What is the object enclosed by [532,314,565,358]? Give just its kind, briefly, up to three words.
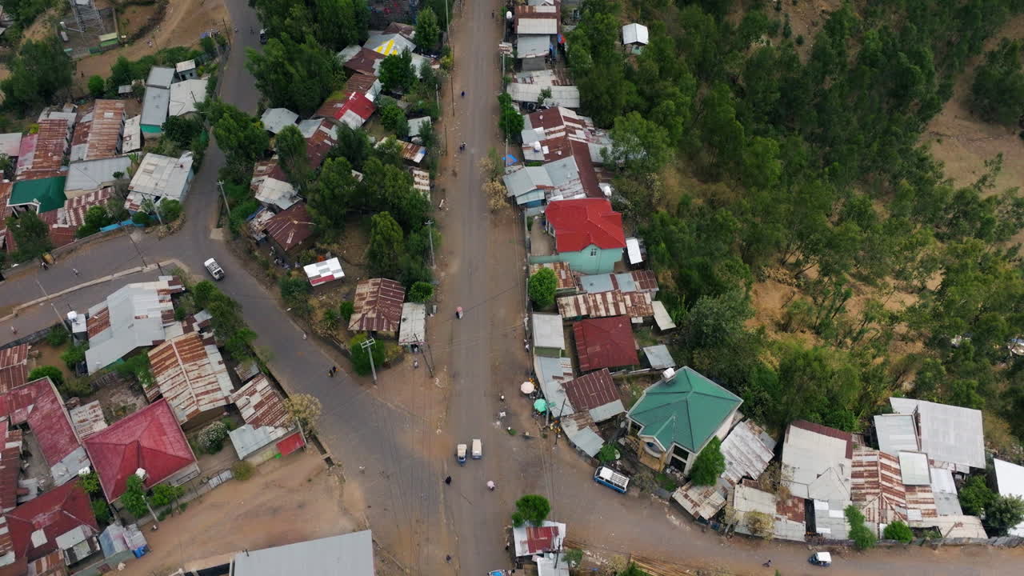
building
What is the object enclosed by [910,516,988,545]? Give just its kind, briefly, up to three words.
shed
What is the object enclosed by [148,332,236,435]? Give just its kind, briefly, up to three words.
house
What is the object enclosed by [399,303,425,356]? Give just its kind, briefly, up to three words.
building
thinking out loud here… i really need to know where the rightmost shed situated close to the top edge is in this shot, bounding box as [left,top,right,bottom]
[623,23,648,54]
